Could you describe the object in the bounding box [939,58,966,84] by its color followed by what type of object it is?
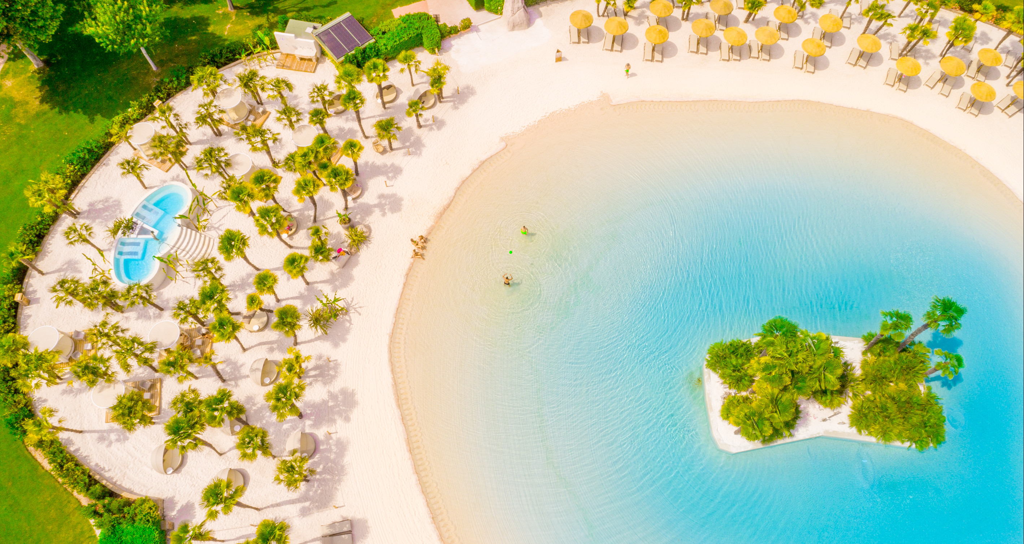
yellow umbrella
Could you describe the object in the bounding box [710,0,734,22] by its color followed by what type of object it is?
yellow umbrella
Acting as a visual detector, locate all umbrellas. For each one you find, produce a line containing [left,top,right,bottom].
[710,0,734,22]
[976,49,1003,75]
[754,28,779,53]
[644,27,669,53]
[801,39,826,65]
[857,35,882,61]
[569,12,593,37]
[818,16,843,41]
[969,83,997,109]
[691,20,715,45]
[650,1,674,26]
[939,58,966,84]
[773,7,797,32]
[604,18,628,44]
[1010,81,1024,107]
[895,58,921,84]
[722,28,747,53]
